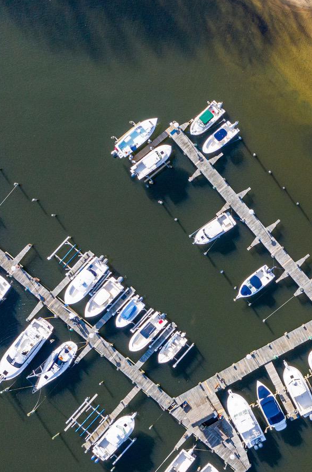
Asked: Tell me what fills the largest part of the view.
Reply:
water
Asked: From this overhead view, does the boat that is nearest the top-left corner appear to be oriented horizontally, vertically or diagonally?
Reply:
diagonally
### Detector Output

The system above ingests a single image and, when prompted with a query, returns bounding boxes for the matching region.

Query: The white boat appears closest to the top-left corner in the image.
[115,117,158,158]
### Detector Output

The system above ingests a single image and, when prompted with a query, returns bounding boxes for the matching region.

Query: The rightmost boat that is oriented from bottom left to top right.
[237,265,276,298]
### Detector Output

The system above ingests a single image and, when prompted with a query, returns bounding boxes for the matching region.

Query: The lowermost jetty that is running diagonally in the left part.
[84,386,140,449]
